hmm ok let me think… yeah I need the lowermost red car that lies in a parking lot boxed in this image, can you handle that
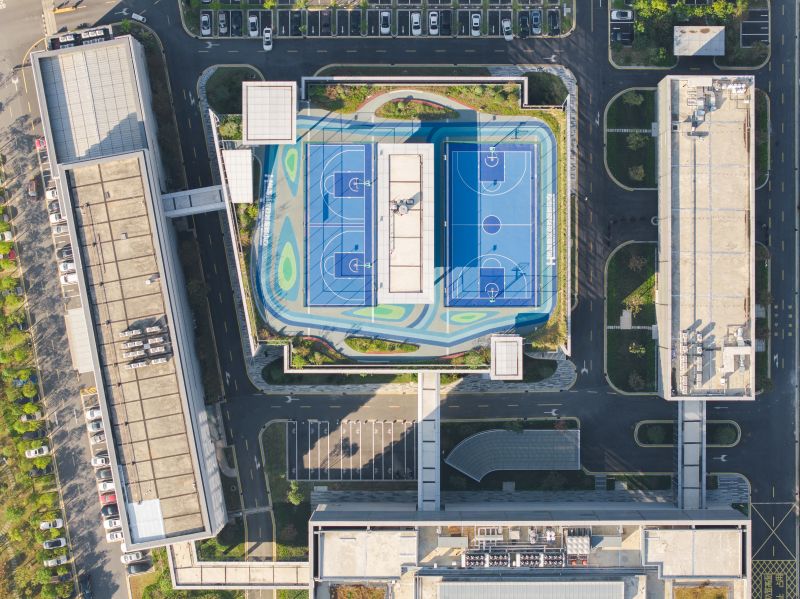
[97,491,118,504]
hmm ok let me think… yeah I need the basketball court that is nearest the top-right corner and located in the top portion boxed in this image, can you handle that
[444,141,541,307]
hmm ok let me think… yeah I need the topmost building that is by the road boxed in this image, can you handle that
[673,26,726,55]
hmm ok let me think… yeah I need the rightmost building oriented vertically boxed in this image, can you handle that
[657,75,755,401]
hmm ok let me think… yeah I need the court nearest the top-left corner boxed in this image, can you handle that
[306,143,378,306]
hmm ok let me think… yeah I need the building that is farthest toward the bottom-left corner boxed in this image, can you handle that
[52,150,224,551]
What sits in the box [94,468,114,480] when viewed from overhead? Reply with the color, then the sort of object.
gray vehicle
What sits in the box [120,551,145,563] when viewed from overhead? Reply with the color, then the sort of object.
white vehicle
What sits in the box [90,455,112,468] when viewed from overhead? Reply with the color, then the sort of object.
white vehicle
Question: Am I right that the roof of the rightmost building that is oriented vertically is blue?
No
